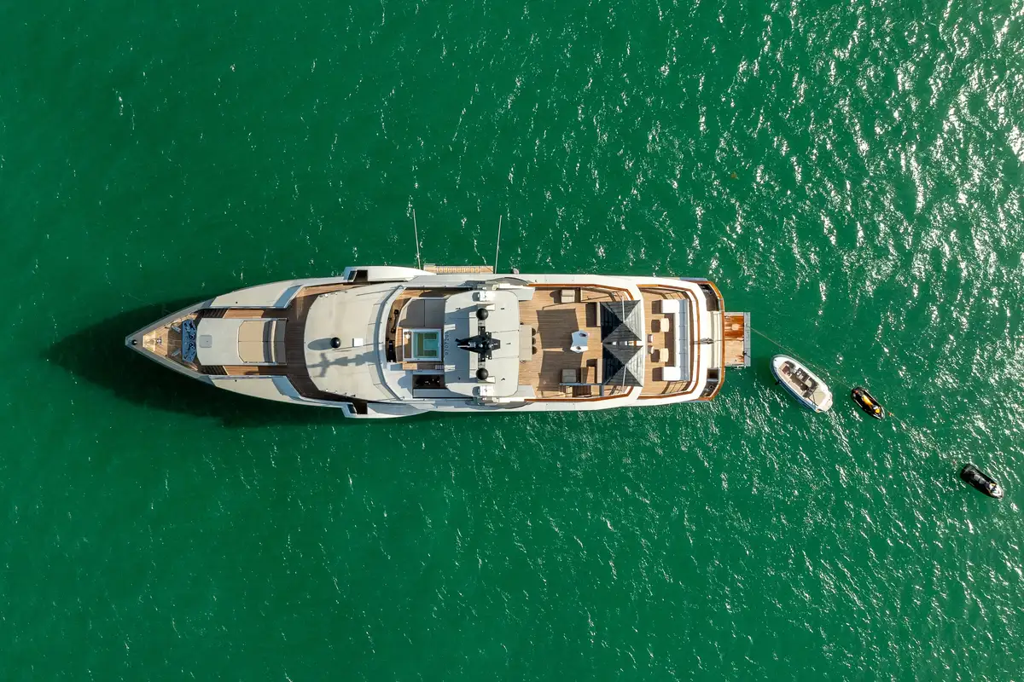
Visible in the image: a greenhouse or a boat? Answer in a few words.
boat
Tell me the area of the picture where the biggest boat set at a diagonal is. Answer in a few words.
right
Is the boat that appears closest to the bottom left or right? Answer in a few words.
right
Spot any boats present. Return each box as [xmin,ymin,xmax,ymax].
[769,356,835,416]
[847,385,885,420]
[125,209,751,418]
[957,461,1002,498]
